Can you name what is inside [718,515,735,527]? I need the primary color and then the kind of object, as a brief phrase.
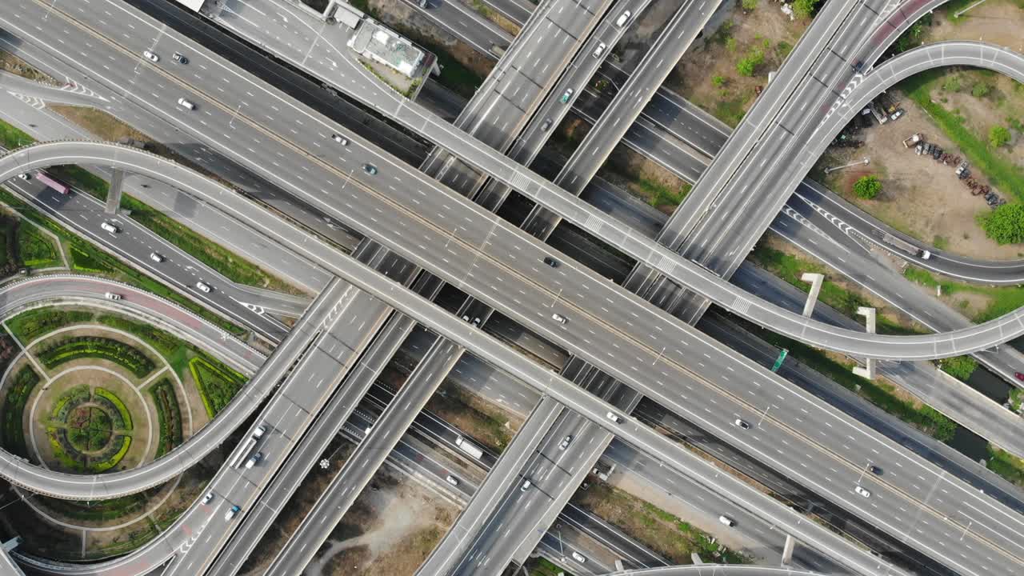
white vehicle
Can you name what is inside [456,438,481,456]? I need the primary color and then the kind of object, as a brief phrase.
white vehicle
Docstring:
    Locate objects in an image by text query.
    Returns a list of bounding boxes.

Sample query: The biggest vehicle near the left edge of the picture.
[28,170,72,196]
